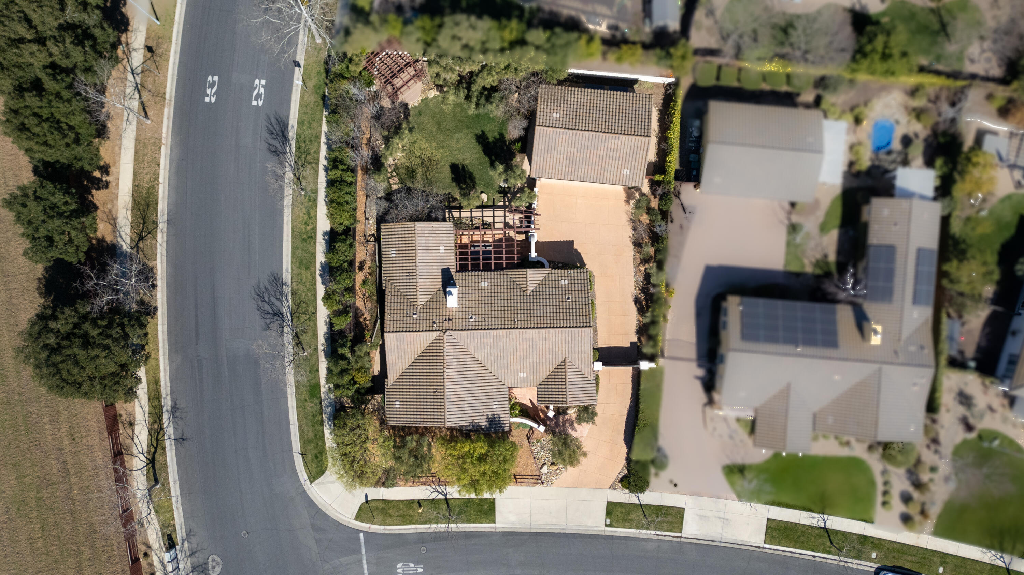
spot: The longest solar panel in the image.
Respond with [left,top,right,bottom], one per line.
[740,297,841,348]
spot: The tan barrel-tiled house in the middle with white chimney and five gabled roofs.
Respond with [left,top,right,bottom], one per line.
[380,221,597,431]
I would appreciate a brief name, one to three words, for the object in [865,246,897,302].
solar panel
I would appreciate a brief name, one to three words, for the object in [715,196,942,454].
house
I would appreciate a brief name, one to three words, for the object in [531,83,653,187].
building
